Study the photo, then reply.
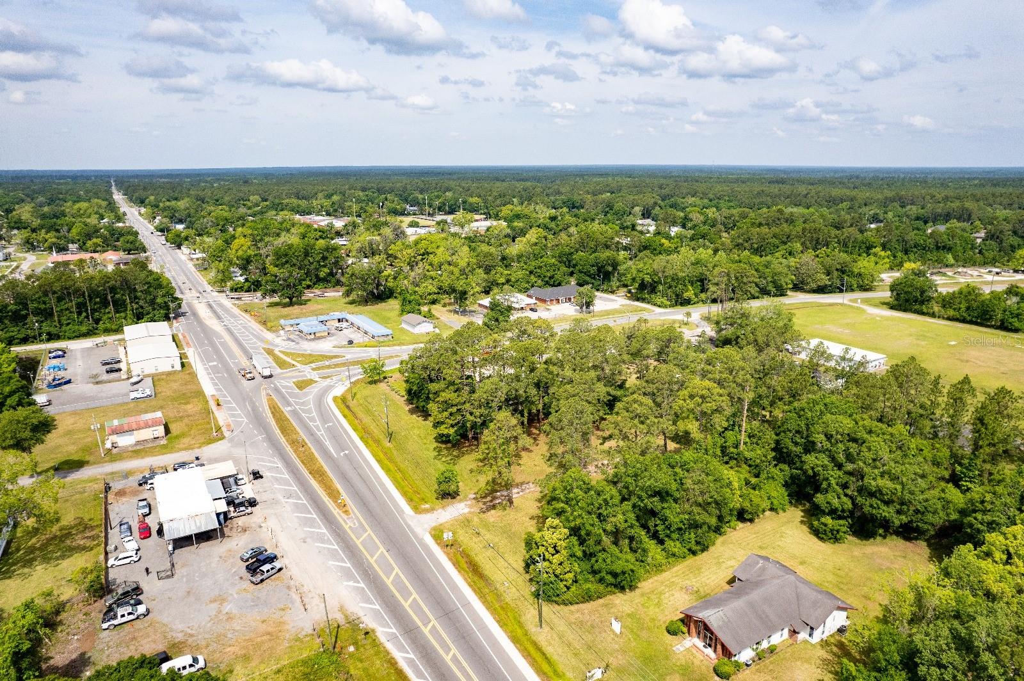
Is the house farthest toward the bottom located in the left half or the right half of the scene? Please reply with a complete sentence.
The house farthest toward the bottom appears in the right half of the scene.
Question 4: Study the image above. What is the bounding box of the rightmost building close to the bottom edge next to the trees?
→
[673,553,860,670]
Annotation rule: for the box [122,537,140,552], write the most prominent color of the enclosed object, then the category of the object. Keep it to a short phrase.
white car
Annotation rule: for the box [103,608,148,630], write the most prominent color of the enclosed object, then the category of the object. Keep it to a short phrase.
white truck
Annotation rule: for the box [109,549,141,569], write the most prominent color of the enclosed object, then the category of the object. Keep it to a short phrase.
white car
